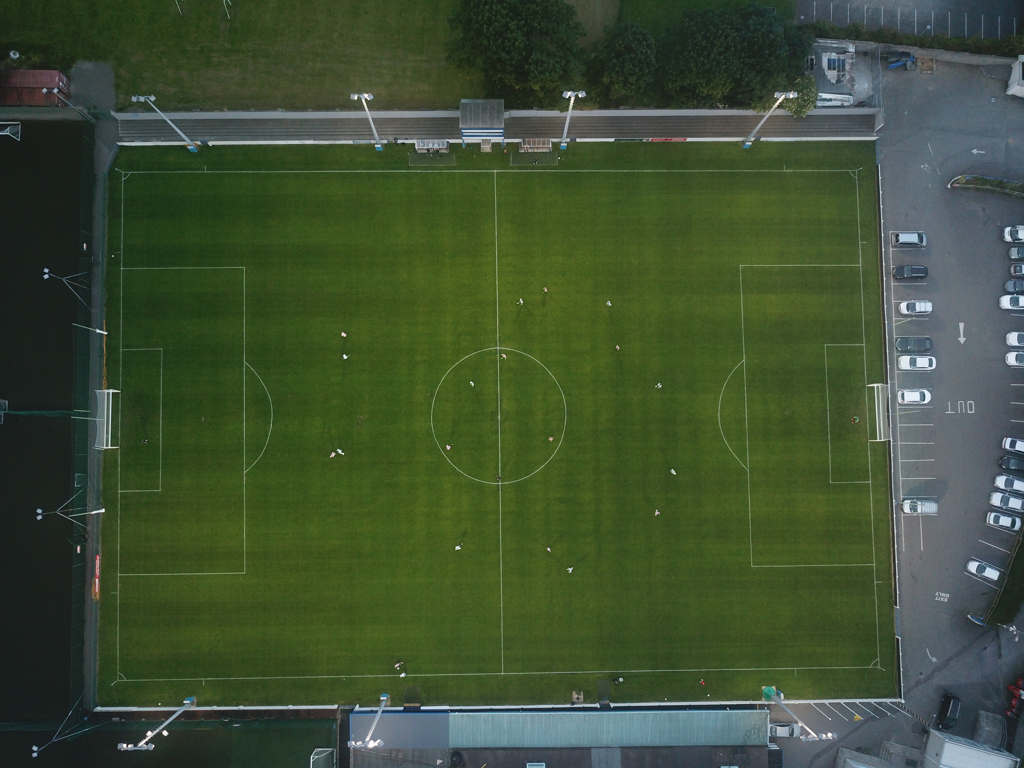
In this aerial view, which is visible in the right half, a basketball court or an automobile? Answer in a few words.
automobile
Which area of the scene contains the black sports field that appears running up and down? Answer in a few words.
left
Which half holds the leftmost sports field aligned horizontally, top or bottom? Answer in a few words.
bottom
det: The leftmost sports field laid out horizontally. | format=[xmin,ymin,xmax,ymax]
[0,719,338,768]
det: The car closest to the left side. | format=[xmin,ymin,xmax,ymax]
[768,721,802,739]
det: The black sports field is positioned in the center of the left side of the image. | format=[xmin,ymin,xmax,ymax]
[0,120,95,735]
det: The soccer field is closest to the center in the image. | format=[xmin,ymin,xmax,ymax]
[97,140,899,706]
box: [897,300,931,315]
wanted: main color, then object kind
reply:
white car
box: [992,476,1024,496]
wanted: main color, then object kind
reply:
white car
